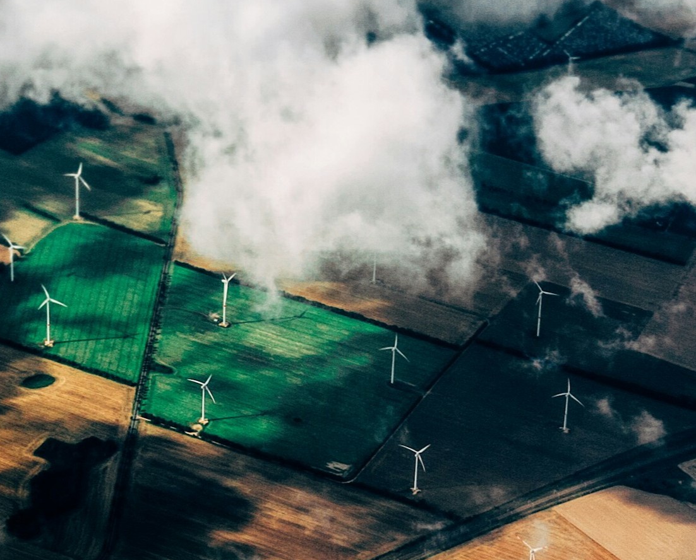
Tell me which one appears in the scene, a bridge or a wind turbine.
wind turbine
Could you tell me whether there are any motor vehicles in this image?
No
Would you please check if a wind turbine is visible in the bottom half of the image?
Yes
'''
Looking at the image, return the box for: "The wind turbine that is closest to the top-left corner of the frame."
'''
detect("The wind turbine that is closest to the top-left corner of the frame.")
[60,163,84,218]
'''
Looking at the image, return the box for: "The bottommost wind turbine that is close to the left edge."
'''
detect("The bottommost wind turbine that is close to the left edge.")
[34,283,62,343]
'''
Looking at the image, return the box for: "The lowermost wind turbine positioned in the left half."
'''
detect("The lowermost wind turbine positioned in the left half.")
[186,376,211,417]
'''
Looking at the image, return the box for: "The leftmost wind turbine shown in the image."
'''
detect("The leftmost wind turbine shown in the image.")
[0,234,26,280]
